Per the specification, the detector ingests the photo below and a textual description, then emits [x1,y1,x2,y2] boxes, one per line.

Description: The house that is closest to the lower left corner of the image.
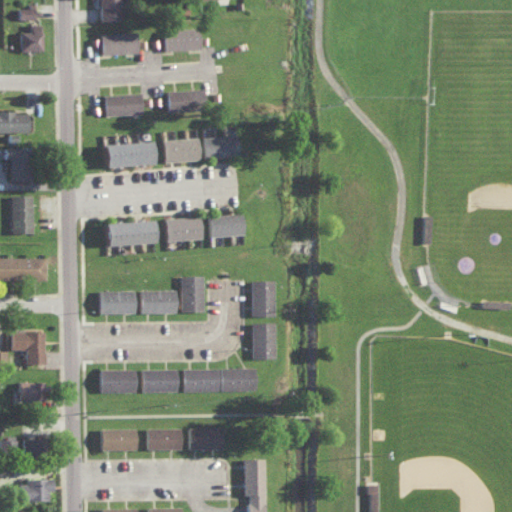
[21,480,55,502]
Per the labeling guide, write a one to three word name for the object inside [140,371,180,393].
building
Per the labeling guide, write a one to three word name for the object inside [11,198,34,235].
house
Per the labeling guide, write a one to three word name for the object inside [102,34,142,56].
building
